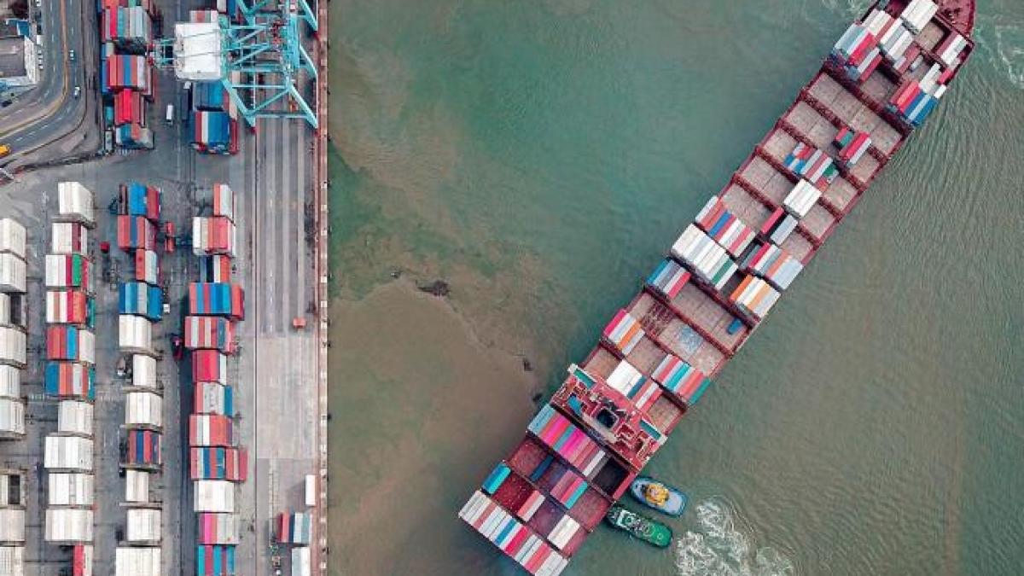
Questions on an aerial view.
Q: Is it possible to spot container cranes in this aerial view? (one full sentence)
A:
Yes, you can see a container crane in this photo.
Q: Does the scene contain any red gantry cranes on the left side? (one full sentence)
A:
No, I see no red gantry crane on the left side.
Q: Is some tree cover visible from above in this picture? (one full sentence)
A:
No, no tree cover is visible.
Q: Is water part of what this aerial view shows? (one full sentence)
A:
Yes, some water is visible.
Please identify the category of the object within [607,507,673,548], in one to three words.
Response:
boat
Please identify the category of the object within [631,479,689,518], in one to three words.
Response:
boat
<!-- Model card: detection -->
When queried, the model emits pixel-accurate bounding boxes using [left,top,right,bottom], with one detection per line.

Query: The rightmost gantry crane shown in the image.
[236,0,319,37]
